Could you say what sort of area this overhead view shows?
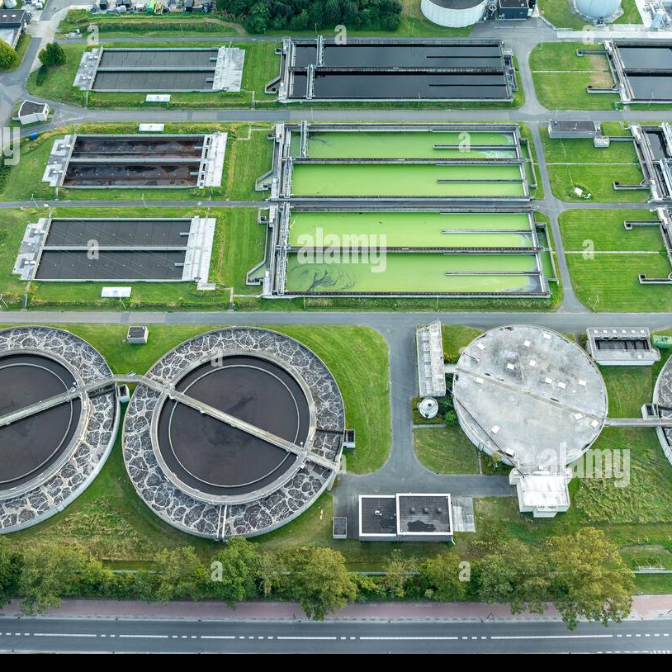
industrial area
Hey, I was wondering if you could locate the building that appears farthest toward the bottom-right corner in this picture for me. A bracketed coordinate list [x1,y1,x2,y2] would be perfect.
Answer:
[506,464,572,515]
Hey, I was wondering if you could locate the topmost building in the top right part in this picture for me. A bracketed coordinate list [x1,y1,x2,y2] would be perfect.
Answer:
[495,0,529,18]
